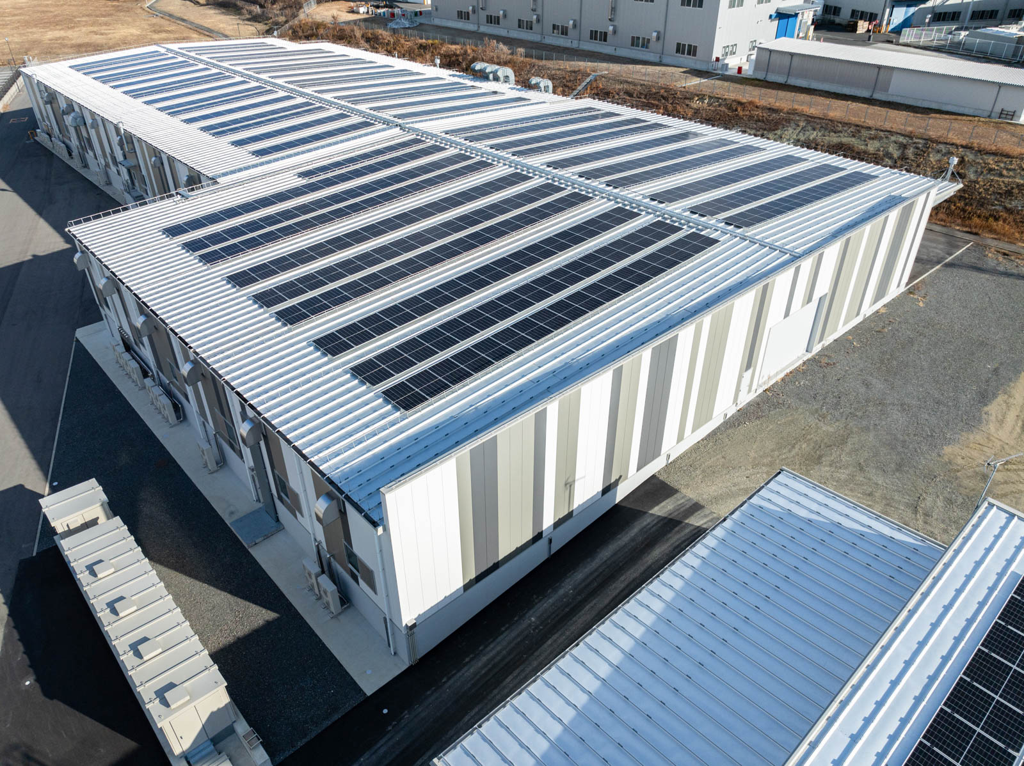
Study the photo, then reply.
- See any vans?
No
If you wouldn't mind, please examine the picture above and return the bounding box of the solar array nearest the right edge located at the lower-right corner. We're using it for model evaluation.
[904,577,1024,766]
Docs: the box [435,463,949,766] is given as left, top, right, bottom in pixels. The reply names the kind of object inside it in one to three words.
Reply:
warehouse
